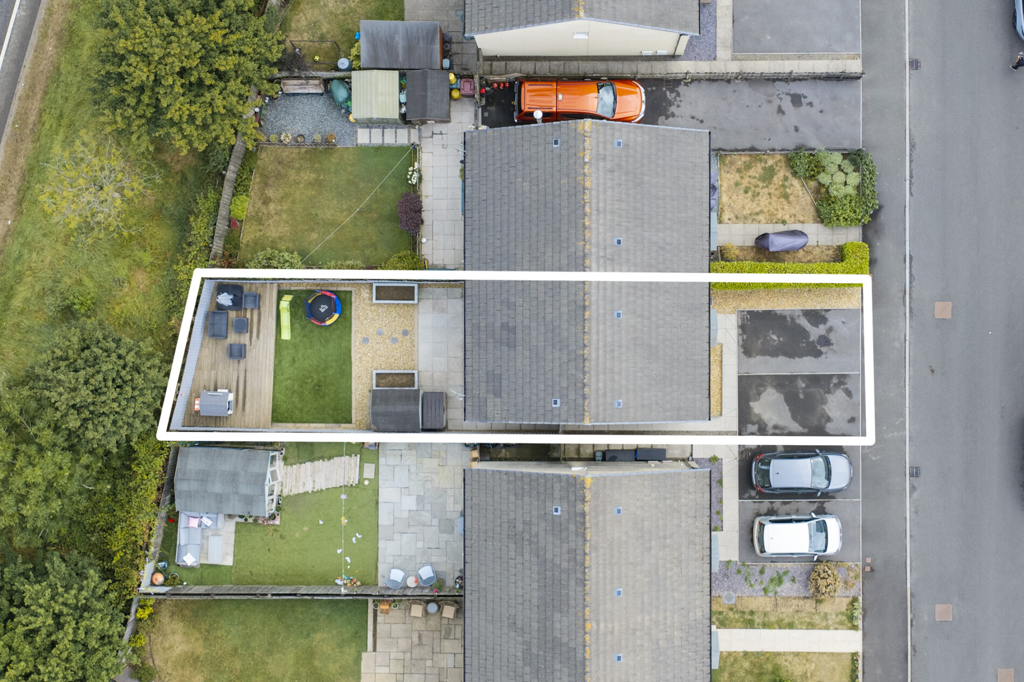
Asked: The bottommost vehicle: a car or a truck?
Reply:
car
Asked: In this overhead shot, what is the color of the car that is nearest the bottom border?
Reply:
white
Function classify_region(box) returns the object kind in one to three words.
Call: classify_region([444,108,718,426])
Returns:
house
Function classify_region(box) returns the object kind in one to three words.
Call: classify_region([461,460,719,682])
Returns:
house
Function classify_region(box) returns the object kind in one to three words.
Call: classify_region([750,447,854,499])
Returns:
car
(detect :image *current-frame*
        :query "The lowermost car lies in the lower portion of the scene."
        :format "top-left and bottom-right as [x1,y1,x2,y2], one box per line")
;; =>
[751,512,841,563]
